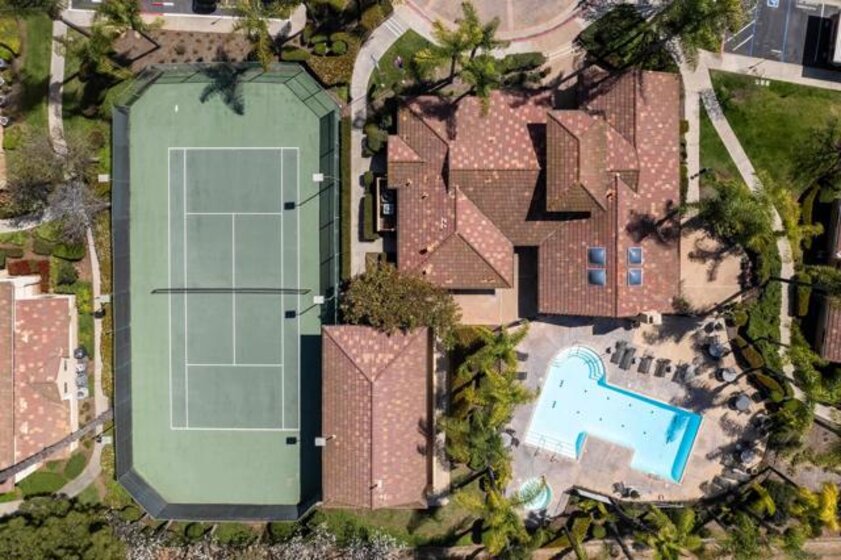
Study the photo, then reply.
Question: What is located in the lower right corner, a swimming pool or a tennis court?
swimming pool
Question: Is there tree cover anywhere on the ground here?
Yes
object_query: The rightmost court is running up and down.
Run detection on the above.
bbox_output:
[129,63,342,506]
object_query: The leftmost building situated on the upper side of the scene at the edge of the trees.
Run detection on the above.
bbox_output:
[388,63,680,325]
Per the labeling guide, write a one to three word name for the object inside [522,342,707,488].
swimming pool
